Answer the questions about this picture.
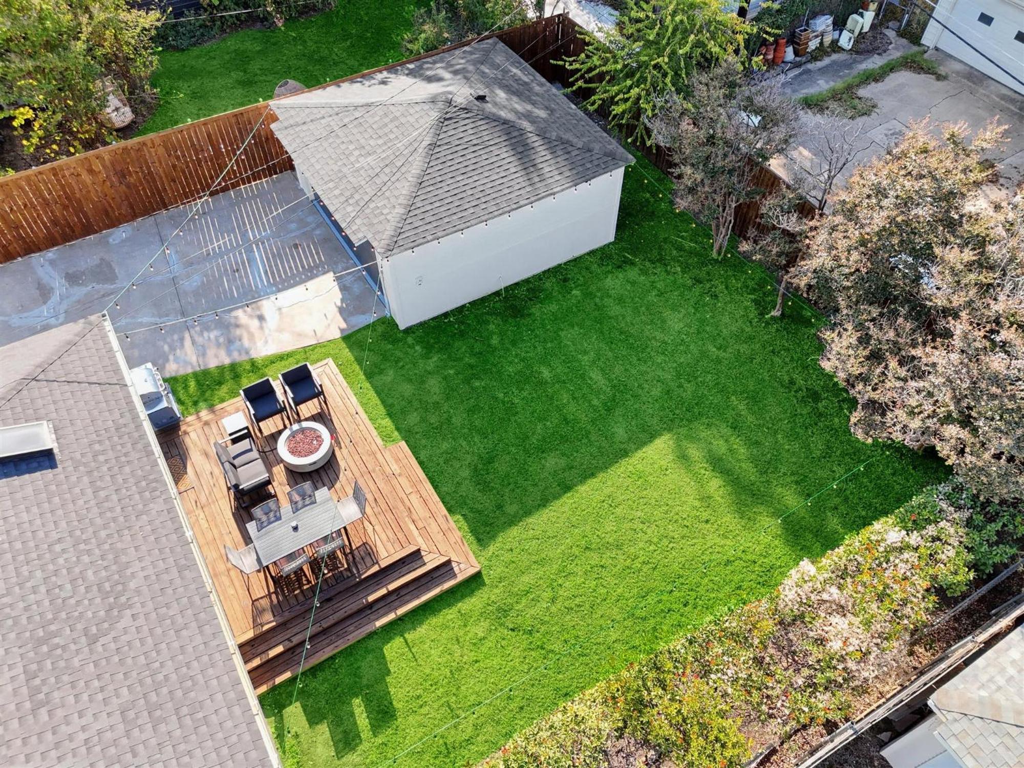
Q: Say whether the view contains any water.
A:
No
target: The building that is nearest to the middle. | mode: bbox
[267,38,635,329]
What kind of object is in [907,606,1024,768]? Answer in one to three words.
house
